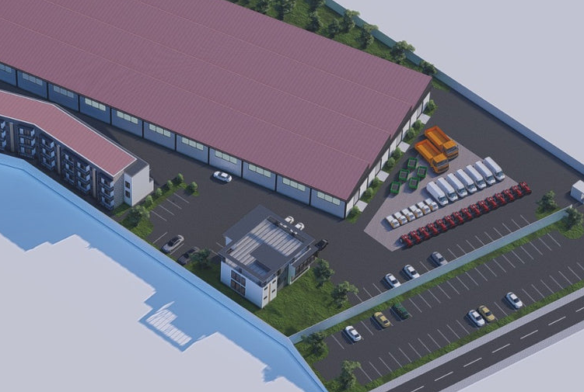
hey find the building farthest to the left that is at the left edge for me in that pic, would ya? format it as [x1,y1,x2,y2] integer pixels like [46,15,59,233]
[0,88,153,211]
